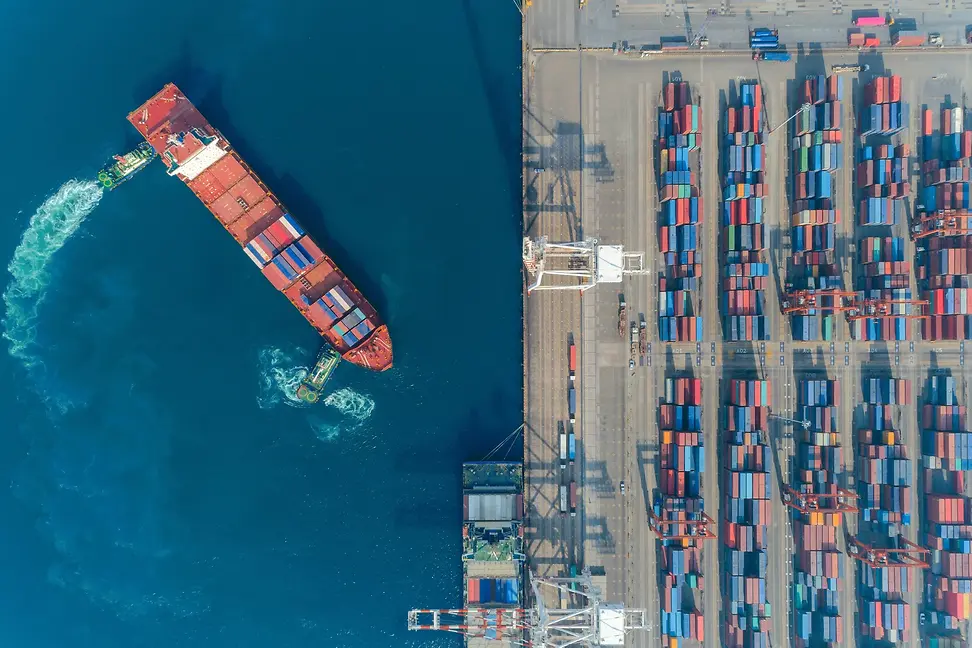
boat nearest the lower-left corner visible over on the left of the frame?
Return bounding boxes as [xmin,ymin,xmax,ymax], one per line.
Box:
[298,343,340,404]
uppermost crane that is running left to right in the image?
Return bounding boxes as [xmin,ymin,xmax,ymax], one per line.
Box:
[909,213,972,242]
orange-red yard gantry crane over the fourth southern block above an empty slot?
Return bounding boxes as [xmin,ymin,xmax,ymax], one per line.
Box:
[844,528,929,566]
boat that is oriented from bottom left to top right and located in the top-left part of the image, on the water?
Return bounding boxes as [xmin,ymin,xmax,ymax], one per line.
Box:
[96,146,157,192]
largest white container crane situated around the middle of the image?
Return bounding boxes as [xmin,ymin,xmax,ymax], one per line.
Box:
[521,233,649,303]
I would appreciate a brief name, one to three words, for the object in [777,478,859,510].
container crane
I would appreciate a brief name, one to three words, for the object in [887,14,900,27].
vehicle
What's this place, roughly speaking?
port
